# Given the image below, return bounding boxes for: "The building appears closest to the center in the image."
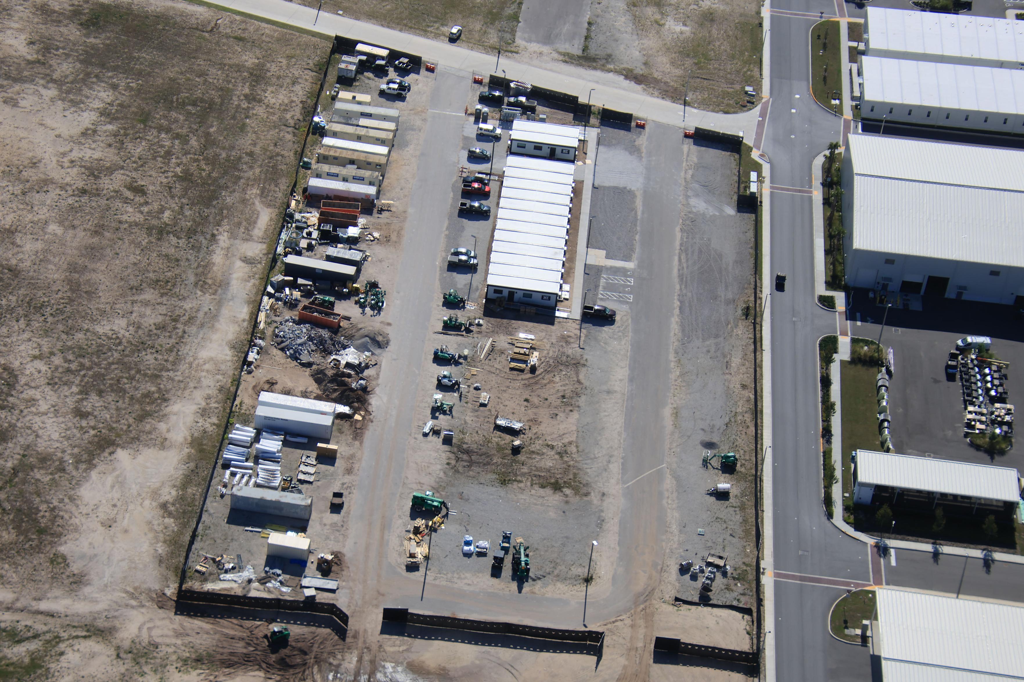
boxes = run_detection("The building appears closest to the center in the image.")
[486,156,582,309]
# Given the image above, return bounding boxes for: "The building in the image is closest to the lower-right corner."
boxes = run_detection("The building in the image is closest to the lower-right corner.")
[880,588,1024,682]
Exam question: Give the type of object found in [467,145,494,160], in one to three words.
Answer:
car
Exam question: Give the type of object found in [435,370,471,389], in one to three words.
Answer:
work vehicle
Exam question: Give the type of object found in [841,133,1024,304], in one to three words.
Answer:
warehouse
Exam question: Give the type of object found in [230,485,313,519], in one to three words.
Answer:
shipping container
